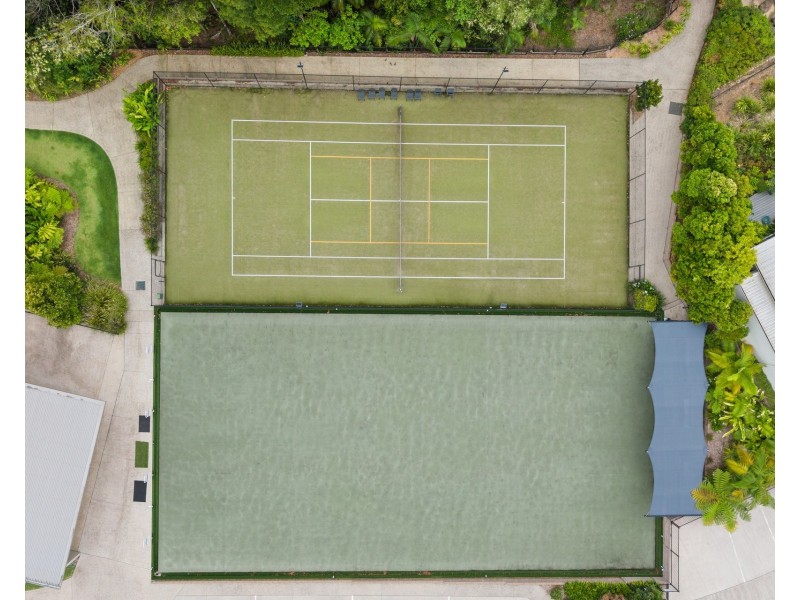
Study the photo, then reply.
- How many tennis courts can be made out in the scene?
one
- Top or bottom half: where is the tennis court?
top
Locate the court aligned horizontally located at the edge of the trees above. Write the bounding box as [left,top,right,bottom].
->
[163,87,630,308]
